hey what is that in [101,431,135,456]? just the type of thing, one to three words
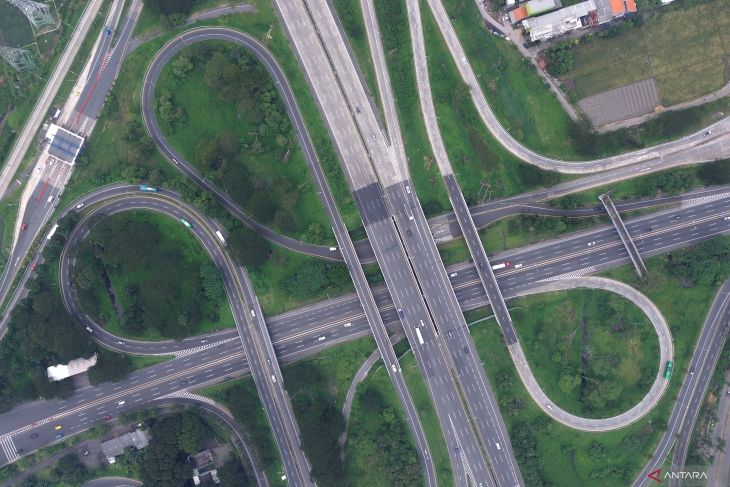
building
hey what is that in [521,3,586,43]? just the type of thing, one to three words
building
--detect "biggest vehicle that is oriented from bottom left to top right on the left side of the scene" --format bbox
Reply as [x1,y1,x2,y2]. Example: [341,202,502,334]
[44,223,59,240]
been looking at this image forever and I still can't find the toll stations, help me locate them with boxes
[46,126,88,171]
